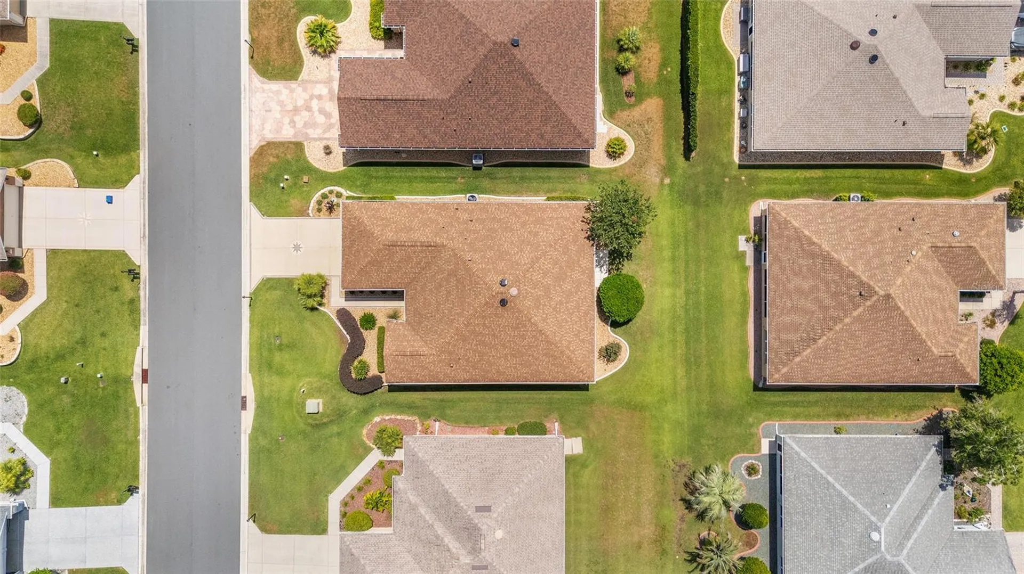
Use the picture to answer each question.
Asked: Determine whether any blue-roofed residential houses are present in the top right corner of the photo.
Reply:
No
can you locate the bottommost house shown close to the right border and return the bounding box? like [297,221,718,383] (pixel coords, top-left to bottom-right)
[776,434,1017,574]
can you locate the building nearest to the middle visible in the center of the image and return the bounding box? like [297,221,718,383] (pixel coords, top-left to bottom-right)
[340,200,596,385]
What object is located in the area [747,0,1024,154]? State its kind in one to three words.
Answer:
house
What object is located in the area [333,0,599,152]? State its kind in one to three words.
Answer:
house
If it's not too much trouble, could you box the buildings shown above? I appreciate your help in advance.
[747,0,1024,154]
[0,0,31,25]
[338,434,566,574]
[762,199,1008,386]
[776,434,1017,574]
[340,200,596,385]
[0,168,29,261]
[333,0,599,152]
[0,499,28,574]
